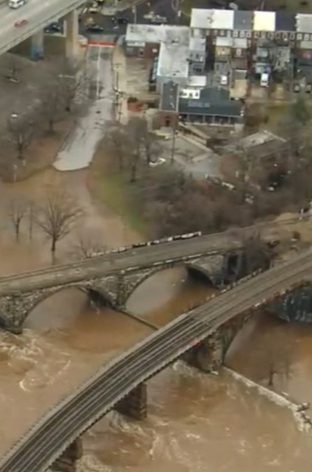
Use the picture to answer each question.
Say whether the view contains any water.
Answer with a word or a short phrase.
Yes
